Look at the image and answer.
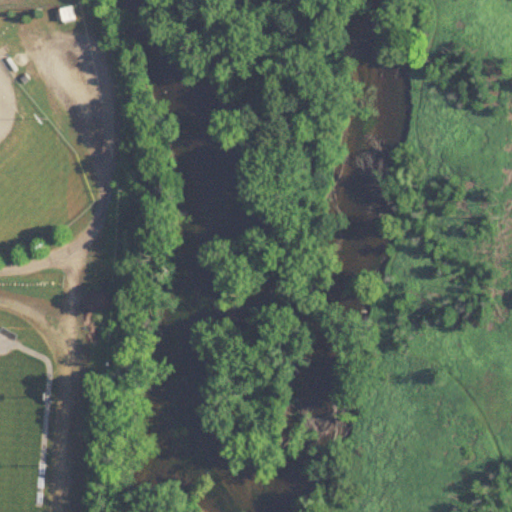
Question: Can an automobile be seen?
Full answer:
No, there's no automobile here.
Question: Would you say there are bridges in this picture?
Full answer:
No, I can't see a single bridge in this photo.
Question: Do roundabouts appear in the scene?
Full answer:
No, there's no roundabout here.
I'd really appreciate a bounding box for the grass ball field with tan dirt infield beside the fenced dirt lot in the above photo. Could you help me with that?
[0,20,94,243]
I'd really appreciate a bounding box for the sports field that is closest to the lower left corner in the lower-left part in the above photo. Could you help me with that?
[0,314,52,512]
